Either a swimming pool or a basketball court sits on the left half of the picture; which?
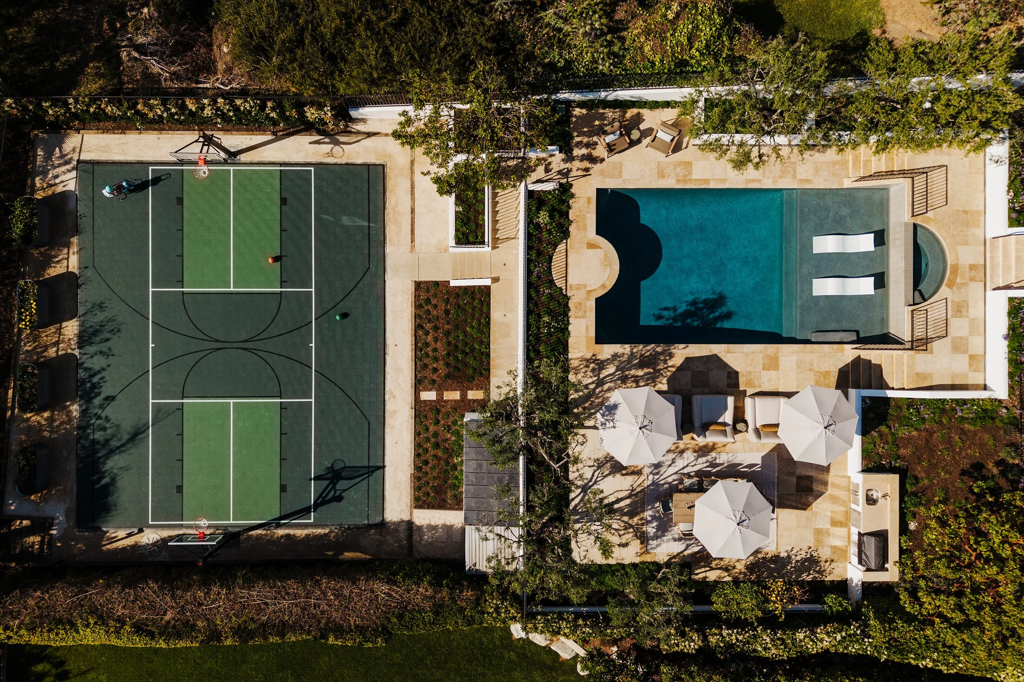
basketball court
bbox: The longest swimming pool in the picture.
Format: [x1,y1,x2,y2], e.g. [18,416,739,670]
[596,188,890,344]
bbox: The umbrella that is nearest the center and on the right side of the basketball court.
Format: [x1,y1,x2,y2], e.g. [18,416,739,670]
[597,386,677,466]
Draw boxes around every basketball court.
[76,160,386,531]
